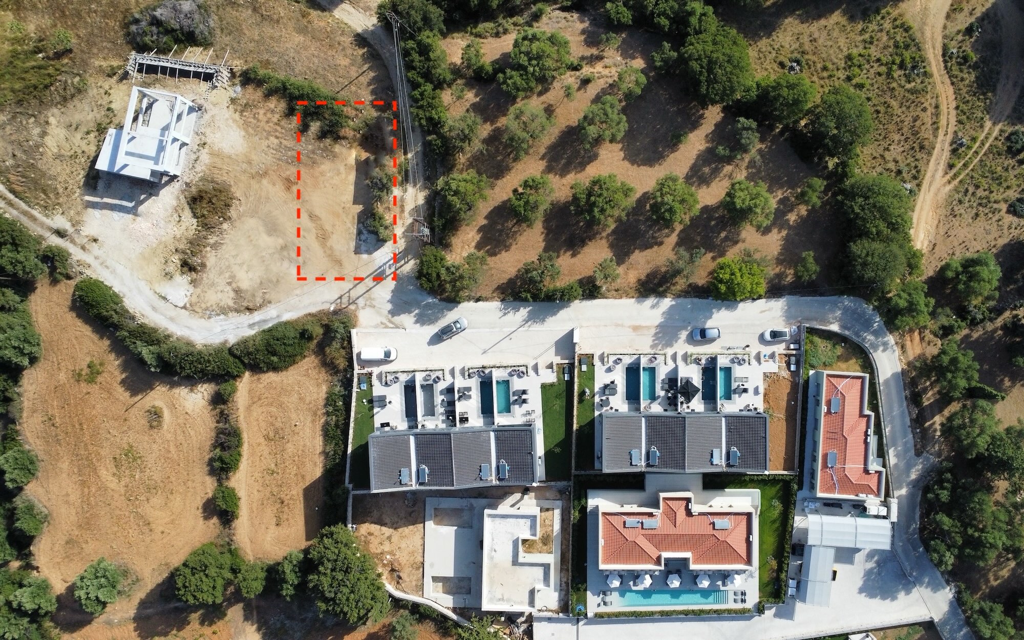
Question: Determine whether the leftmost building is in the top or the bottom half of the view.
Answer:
top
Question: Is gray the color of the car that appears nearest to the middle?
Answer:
Yes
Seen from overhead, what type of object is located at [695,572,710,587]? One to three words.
umbrella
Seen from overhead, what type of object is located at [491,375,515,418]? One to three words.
swimming pool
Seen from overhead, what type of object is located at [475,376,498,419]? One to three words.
swimming pool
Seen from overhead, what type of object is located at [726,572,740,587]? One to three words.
umbrella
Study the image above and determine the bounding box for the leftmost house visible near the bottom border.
[482,505,554,611]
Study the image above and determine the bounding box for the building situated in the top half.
[95,86,198,183]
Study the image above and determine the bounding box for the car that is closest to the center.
[435,317,468,341]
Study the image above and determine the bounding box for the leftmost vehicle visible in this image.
[361,346,397,362]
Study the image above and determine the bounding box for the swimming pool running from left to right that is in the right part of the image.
[618,590,729,607]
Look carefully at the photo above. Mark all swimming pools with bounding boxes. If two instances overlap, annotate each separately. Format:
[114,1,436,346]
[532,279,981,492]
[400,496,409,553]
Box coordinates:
[419,379,440,421]
[475,376,498,419]
[719,364,735,403]
[491,375,515,418]
[622,364,645,405]
[638,364,660,405]
[697,363,721,404]
[399,379,420,423]
[618,590,729,607]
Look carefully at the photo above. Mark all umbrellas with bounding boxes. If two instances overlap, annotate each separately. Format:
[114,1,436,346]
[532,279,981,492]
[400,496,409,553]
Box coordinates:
[695,572,710,587]
[606,573,621,587]
[637,572,652,587]
[674,378,701,405]
[726,572,740,587]
[666,572,681,587]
